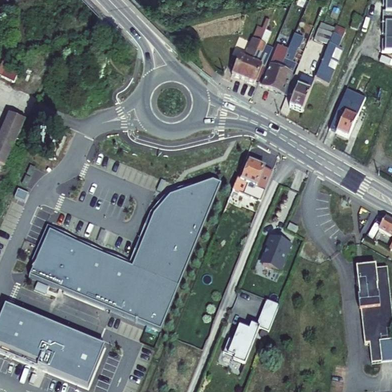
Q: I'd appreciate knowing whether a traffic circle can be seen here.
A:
Yes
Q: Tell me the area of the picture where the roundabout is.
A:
top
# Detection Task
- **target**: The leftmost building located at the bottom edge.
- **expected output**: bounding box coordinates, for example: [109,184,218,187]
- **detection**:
[0,301,108,390]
